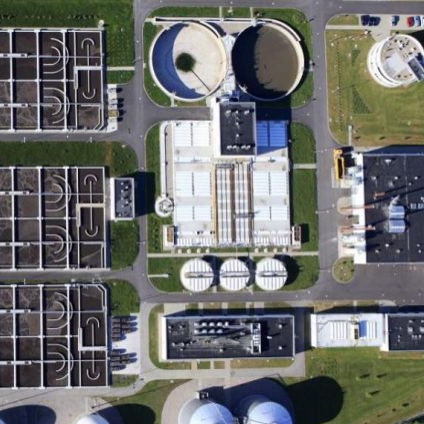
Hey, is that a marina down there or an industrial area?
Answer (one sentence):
The area seen from above is an industrial area.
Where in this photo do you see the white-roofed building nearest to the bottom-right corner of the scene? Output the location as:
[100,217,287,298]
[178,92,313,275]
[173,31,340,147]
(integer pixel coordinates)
[311,312,385,347]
